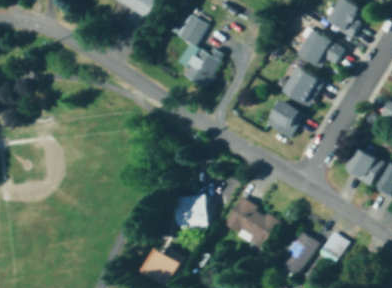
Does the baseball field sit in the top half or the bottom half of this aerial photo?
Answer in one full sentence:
You can find the baseball field in the bottom half.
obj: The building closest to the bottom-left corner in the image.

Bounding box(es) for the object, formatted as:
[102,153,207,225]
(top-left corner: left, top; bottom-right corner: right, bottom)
[142,245,181,284]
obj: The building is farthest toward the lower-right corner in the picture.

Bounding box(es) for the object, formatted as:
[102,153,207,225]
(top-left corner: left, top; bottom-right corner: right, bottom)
[318,231,350,264]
